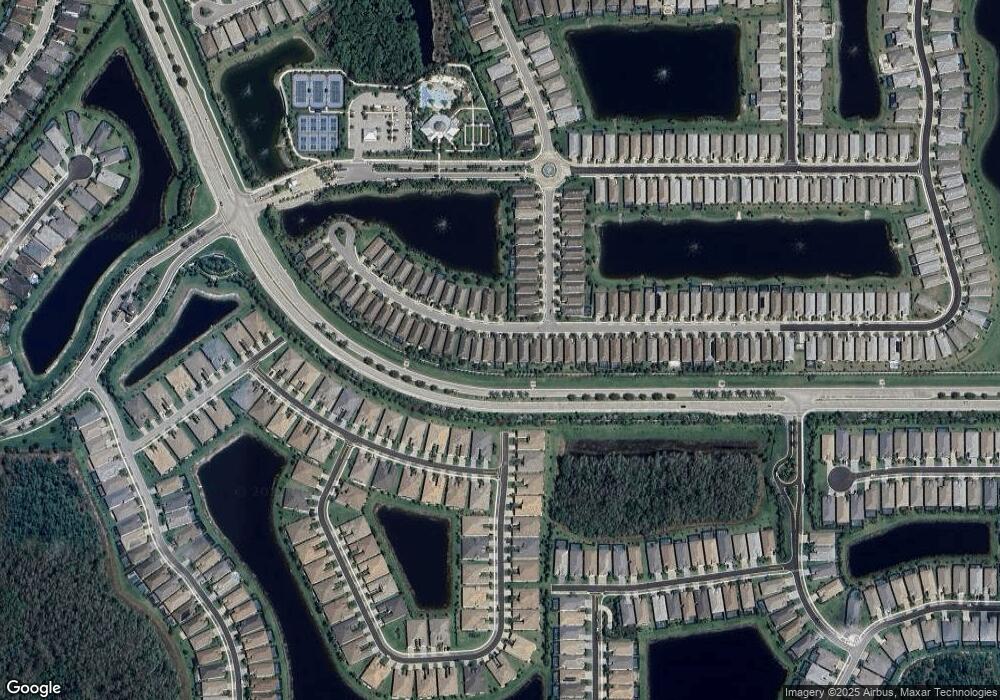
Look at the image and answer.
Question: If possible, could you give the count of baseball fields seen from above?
0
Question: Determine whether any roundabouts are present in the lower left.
No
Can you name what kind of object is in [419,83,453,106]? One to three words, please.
swimming pool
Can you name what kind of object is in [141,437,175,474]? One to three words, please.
house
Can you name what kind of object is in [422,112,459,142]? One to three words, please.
building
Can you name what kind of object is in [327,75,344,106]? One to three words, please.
tennis court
